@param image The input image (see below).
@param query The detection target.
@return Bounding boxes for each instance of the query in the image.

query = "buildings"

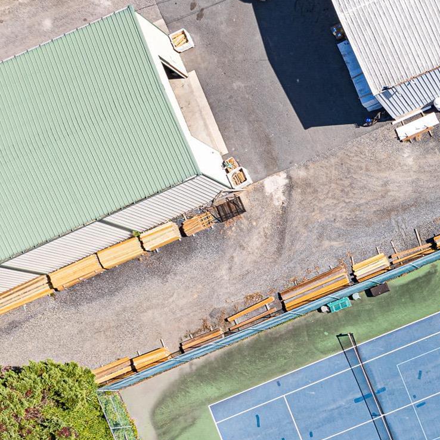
[0,1,233,290]
[329,0,440,119]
